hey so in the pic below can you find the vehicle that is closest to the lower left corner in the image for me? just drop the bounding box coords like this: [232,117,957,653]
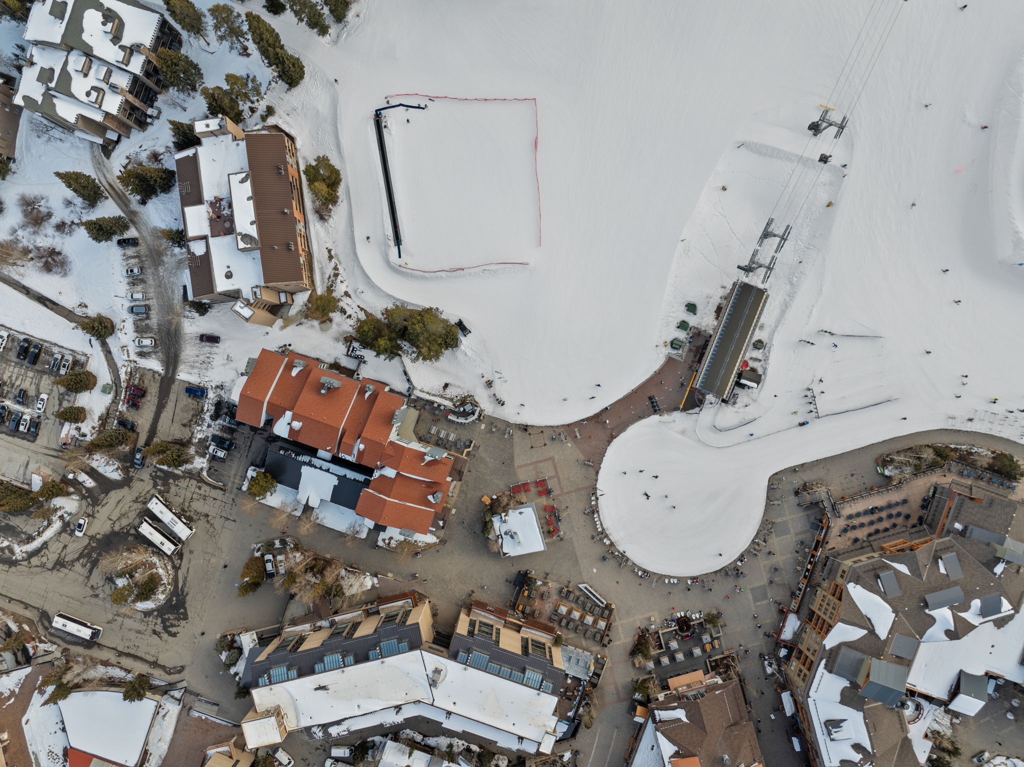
[49,612,108,642]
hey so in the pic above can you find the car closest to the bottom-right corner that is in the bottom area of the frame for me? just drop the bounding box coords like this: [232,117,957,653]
[969,747,991,765]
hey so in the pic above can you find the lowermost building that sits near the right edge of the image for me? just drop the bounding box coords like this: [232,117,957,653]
[773,480,1024,767]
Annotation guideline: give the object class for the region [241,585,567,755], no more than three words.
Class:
building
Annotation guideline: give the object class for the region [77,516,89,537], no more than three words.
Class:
vehicle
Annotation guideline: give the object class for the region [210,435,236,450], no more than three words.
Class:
vehicle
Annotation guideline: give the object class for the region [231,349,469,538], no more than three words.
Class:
building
